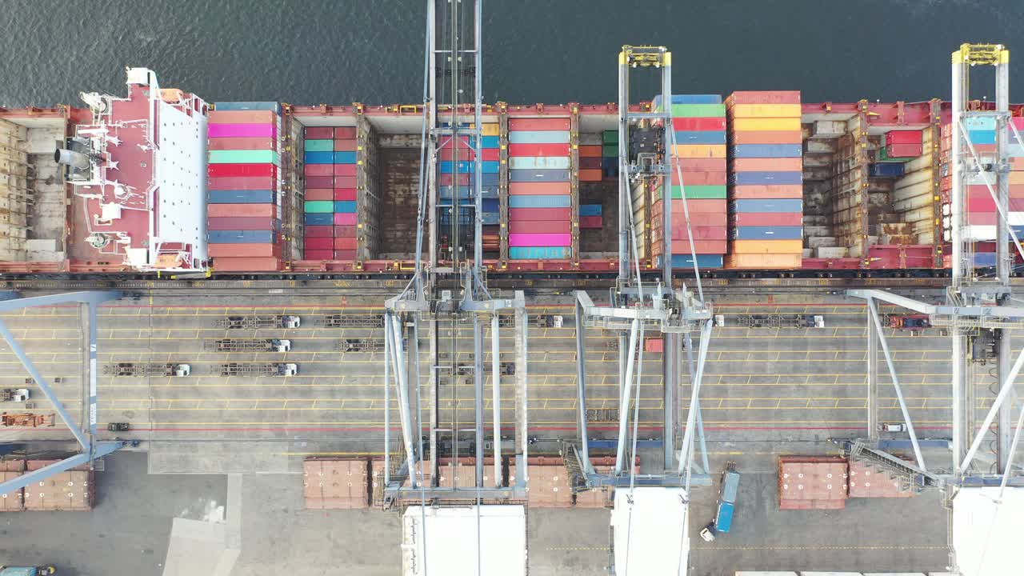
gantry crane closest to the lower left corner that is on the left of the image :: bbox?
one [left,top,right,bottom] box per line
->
[0,291,144,494]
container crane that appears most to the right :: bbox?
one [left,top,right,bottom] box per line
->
[825,39,1024,576]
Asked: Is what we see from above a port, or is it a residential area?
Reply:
port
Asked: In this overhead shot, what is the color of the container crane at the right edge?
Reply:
white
